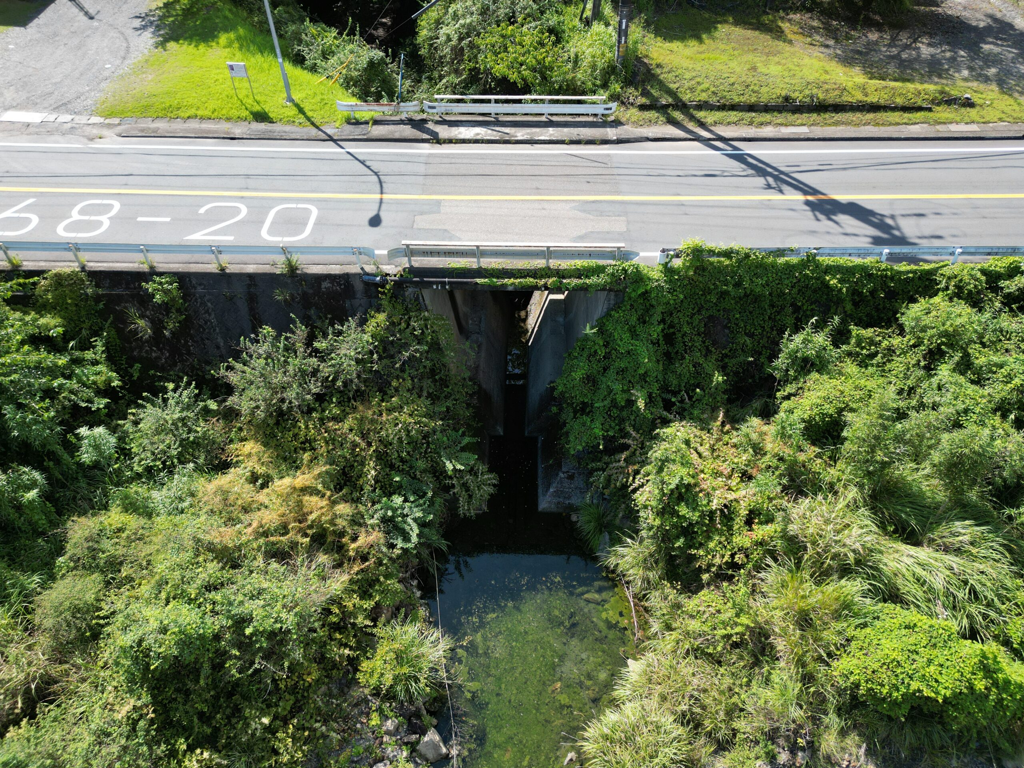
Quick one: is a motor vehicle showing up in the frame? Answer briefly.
No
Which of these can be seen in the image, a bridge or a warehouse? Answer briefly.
bridge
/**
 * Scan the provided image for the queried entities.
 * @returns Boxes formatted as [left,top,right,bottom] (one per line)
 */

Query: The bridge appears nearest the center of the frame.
[407,260,625,522]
